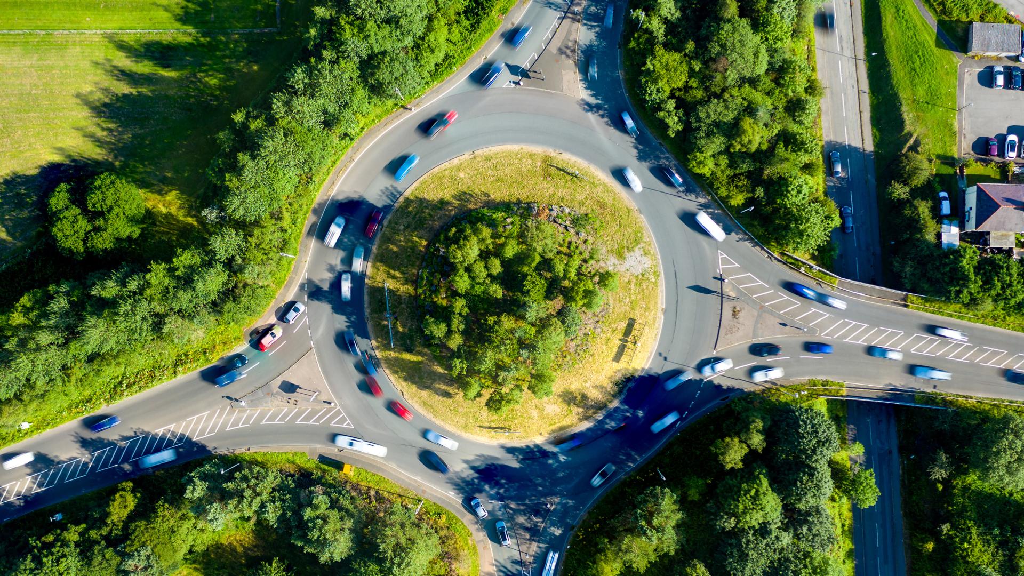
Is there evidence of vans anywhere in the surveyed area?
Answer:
Yes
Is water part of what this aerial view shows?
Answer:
No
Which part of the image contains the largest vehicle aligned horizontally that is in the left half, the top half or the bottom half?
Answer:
bottom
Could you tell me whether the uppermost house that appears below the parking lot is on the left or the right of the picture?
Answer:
right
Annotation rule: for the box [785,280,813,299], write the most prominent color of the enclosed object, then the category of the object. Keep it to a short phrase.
blue car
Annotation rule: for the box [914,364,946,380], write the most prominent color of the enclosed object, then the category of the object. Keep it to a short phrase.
blue car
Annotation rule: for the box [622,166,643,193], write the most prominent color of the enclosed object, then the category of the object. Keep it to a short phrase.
white car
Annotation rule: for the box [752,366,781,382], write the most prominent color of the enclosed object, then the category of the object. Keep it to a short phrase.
white car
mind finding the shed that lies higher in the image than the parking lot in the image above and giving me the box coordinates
[965,22,1022,56]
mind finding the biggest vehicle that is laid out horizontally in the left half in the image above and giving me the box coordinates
[335,432,387,458]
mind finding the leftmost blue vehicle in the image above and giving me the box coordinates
[91,414,120,433]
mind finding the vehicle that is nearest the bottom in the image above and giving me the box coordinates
[539,547,561,576]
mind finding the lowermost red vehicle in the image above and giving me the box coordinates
[390,399,415,425]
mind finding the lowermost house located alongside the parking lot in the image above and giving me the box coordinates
[967,181,1024,231]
